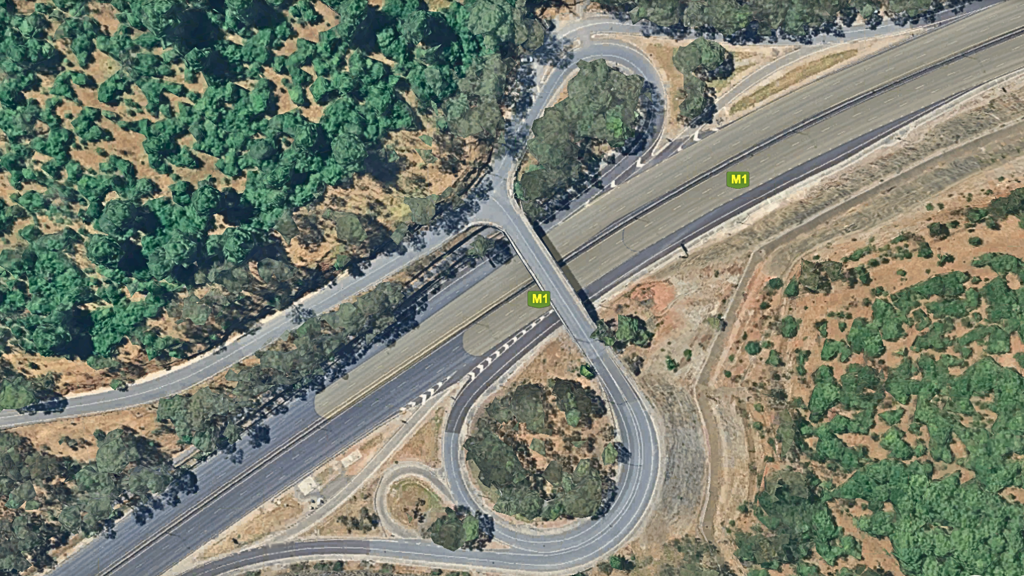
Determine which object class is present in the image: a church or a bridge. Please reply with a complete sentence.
Looking from above, you can make out a bridge.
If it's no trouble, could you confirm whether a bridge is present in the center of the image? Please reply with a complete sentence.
Yes, you'll find a bridge in the center of the image.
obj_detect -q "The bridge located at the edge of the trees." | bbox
[502,212,606,349]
